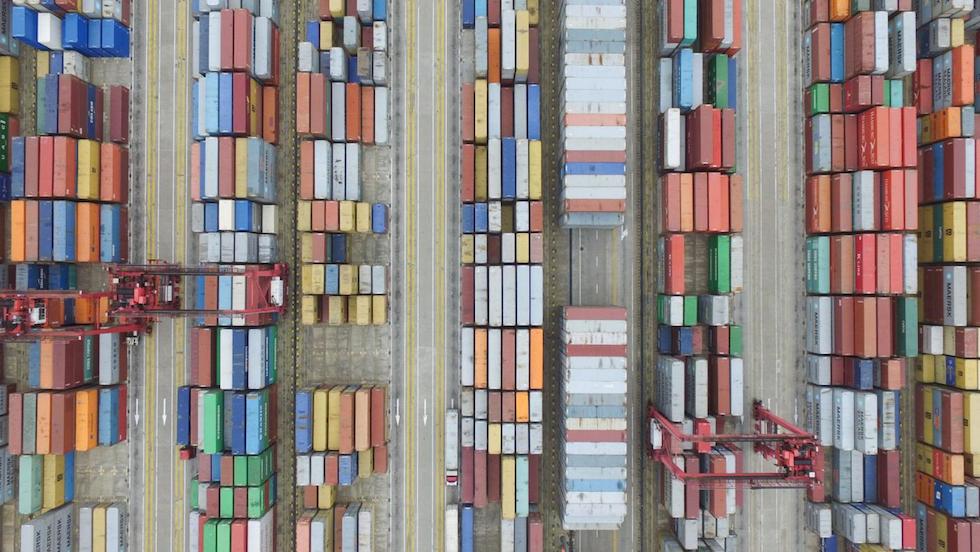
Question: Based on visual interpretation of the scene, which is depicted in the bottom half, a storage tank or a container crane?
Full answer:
The feature located in the bottom half is a container crane.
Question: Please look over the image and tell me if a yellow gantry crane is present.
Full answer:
No, no yellow gantry crane is visible in the view.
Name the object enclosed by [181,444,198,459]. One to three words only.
vehicle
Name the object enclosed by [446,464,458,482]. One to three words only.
vehicle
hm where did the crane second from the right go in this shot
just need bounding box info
[112,258,292,322]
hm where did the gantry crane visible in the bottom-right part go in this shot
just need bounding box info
[649,400,818,487]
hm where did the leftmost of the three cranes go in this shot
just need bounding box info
[0,278,155,343]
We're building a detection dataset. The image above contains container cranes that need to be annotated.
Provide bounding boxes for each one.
[112,258,292,322]
[0,278,155,343]
[649,400,818,487]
